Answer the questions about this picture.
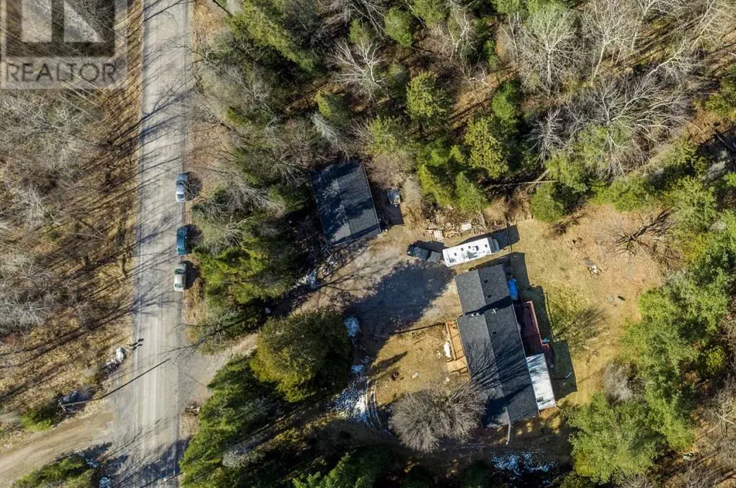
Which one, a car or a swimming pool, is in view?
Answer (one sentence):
I can see a car in this picture.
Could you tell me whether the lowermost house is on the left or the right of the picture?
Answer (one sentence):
You can find the lowermost house on the right side of the picture.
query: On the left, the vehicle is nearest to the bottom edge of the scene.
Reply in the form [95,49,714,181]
[172,263,188,292]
